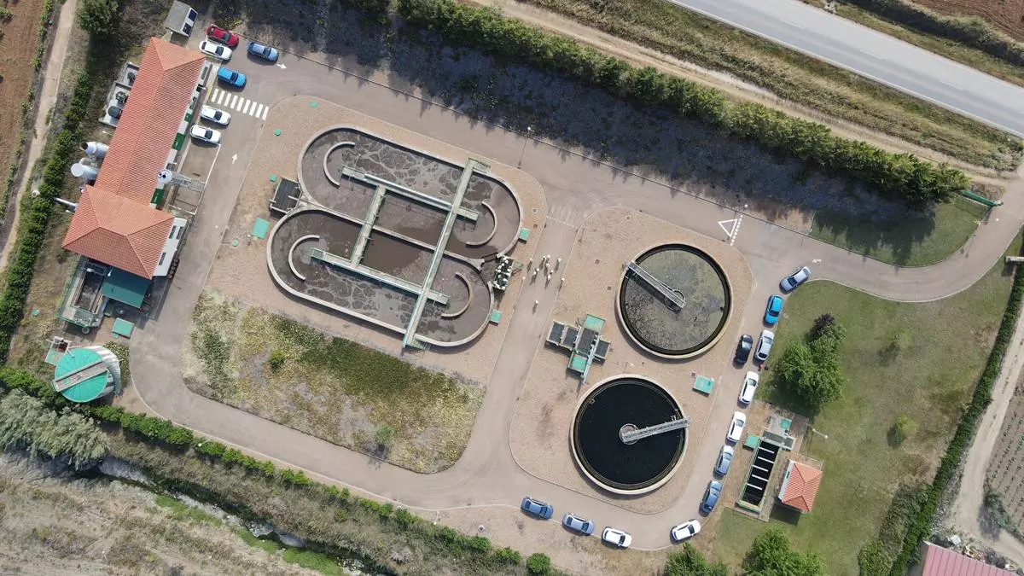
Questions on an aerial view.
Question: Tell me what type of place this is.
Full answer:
This looks like an industrial area.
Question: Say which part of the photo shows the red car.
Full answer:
You can find the red car in the top left area of the picture.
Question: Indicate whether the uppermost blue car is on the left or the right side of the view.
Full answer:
The uppermost blue car sits on the left side.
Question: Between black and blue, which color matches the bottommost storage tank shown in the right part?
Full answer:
The color of the bottommost storage tank shown in the right part is black.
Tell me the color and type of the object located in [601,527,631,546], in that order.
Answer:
white car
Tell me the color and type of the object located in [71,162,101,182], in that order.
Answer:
white silo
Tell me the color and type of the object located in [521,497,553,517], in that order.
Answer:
blue car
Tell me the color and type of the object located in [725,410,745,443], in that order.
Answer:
white car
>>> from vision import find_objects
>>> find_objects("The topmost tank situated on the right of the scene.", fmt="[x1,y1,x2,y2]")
[616,243,732,357]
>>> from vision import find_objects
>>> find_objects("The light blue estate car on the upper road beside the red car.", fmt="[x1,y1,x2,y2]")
[246,43,279,63]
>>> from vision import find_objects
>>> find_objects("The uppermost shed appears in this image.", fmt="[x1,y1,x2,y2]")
[160,0,196,41]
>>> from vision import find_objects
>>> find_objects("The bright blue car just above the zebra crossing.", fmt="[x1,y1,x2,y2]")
[215,67,247,88]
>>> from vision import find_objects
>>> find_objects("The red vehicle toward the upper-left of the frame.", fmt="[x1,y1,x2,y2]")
[206,26,239,48]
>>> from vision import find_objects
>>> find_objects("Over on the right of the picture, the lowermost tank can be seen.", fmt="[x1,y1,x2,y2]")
[569,374,692,492]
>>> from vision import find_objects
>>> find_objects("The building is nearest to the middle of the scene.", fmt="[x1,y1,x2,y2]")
[546,315,610,382]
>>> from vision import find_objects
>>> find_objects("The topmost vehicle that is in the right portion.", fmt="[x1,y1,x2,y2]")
[779,266,812,291]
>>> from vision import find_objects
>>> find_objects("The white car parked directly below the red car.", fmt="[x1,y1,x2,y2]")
[199,40,233,61]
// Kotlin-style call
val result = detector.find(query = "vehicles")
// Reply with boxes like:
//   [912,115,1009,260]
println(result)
[779,266,812,291]
[206,26,239,48]
[562,512,593,533]
[670,519,700,540]
[601,527,631,546]
[713,445,733,477]
[246,43,279,63]
[763,295,783,324]
[754,330,774,361]
[521,497,553,517]
[738,371,758,404]
[199,106,232,126]
[700,480,720,513]
[199,40,233,61]
[189,125,223,145]
[215,67,247,88]
[725,410,745,443]
[734,333,753,364]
